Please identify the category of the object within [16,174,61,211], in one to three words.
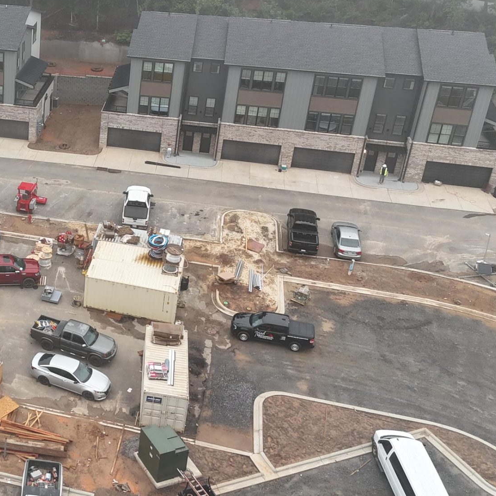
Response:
vehicle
